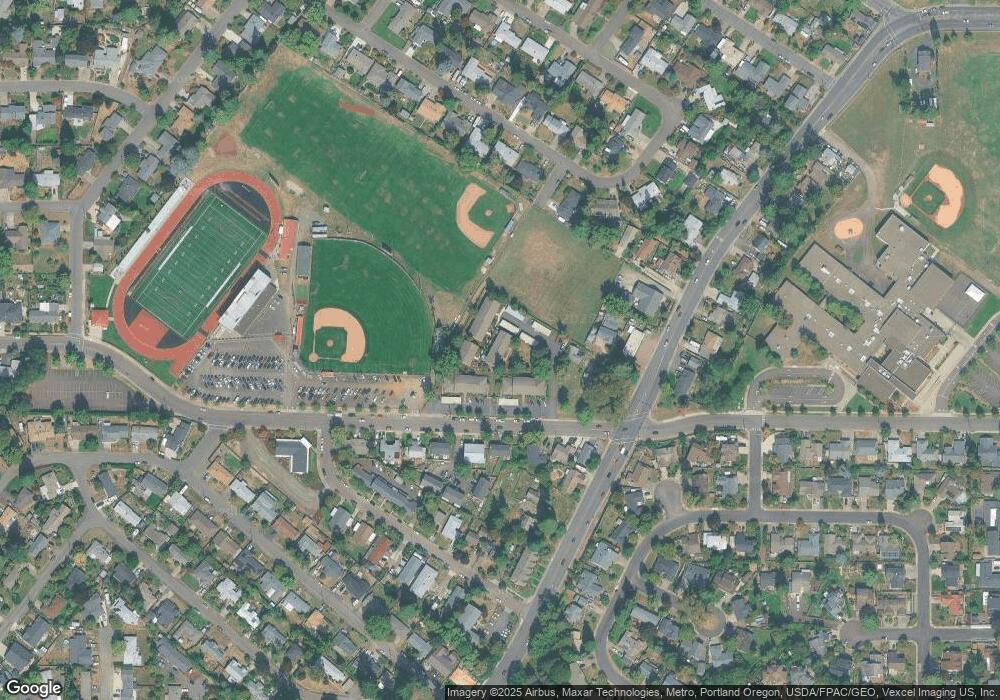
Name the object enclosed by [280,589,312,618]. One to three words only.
house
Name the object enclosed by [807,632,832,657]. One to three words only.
house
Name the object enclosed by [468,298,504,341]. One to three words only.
building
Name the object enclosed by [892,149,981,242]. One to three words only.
baseball field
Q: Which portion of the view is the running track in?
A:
left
